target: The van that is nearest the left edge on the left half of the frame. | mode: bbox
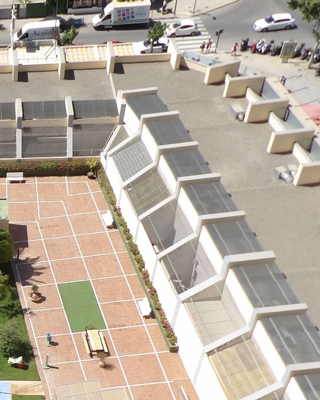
[12,18,63,46]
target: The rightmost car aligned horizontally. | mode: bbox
[250,12,298,32]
